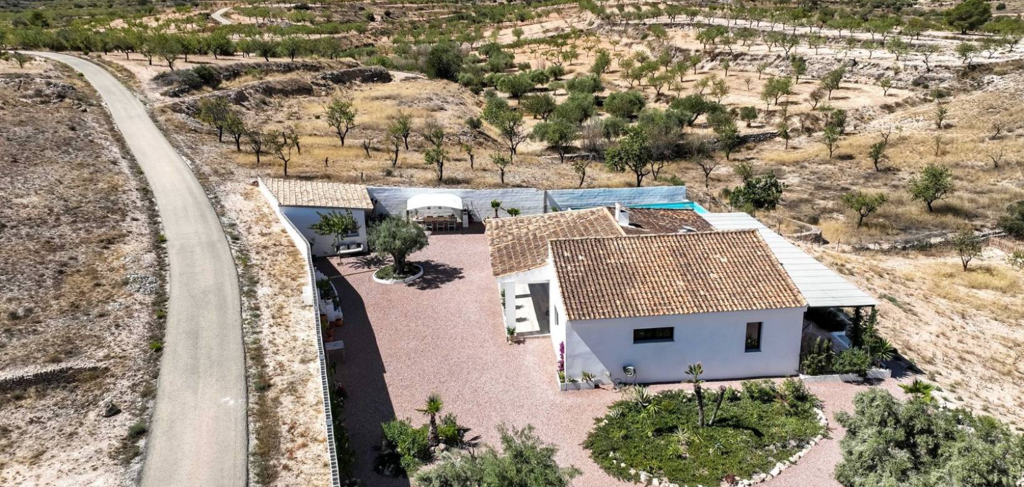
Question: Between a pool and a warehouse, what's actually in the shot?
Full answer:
The image shows a pool.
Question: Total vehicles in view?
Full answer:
The count of vehicles is 0.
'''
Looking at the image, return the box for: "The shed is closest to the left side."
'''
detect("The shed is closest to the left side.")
[262,178,374,256]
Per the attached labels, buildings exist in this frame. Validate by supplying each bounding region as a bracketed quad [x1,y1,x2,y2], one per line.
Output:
[486,195,808,387]
[262,178,374,256]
